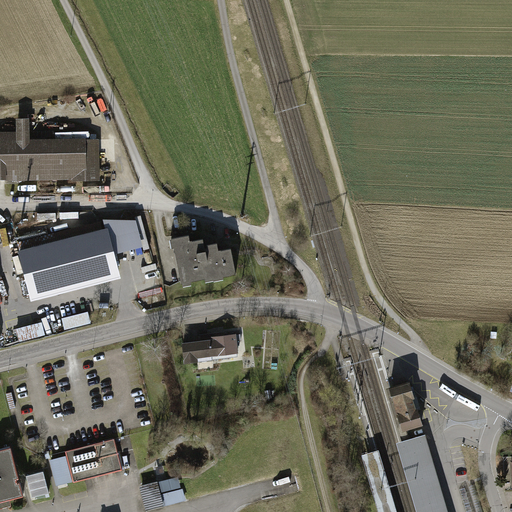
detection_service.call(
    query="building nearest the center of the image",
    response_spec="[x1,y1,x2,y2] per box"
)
[170,236,234,288]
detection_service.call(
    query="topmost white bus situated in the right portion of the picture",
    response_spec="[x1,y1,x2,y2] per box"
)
[440,384,480,411]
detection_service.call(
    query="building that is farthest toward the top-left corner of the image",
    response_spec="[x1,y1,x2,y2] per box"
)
[0,118,100,181]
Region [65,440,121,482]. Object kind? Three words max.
building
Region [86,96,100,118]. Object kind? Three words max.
vehicle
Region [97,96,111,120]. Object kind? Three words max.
vehicle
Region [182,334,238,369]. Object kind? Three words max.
house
